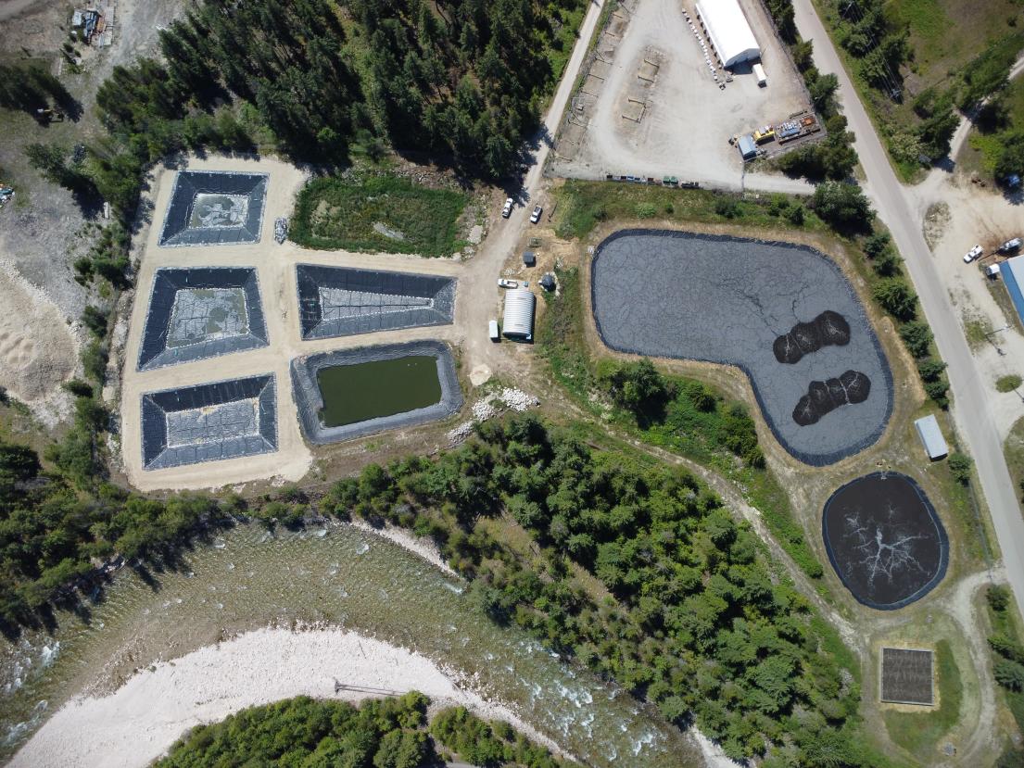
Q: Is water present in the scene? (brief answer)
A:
Yes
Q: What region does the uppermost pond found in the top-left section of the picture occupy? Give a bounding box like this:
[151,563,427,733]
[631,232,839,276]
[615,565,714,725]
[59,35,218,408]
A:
[157,169,270,247]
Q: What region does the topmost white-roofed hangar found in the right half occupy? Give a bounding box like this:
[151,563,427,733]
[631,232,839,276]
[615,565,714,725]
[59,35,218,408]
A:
[692,0,760,68]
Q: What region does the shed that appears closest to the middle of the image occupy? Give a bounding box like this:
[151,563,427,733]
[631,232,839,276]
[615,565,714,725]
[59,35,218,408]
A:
[503,290,533,336]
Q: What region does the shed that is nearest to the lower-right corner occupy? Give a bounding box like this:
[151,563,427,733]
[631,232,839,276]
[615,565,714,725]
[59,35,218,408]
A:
[910,414,948,459]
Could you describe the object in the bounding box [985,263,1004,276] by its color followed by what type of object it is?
white vehicle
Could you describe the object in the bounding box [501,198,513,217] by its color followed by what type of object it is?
white vehicle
